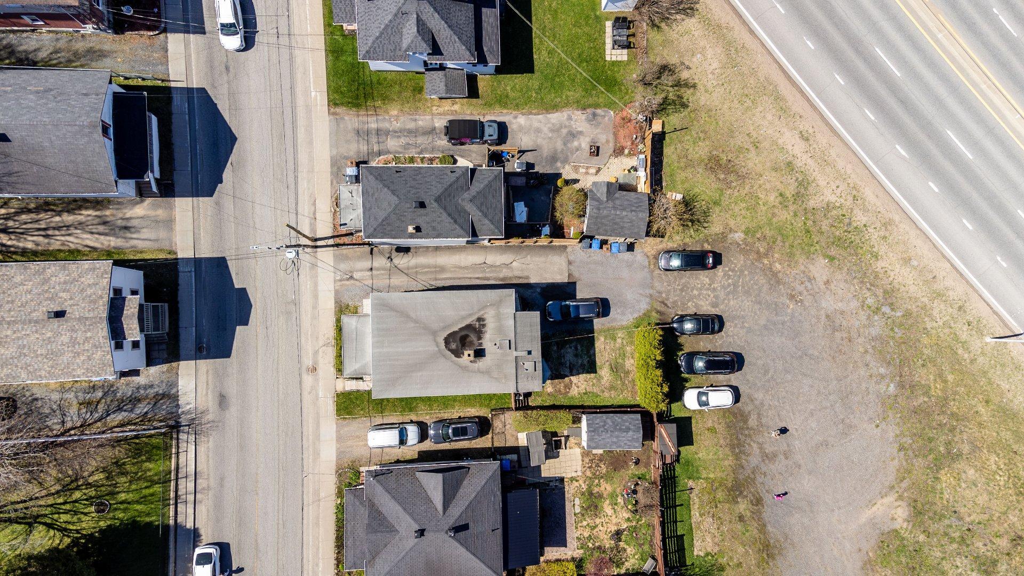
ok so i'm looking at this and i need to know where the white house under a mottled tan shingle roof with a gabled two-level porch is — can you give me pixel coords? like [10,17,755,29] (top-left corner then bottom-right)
[0,259,159,380]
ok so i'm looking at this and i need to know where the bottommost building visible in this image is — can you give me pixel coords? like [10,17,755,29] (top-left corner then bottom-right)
[345,457,541,576]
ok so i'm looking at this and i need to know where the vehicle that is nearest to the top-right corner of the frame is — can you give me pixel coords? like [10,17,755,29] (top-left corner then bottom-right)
[659,248,716,273]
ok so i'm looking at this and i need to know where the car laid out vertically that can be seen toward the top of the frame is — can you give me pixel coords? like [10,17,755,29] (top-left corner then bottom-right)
[217,0,245,53]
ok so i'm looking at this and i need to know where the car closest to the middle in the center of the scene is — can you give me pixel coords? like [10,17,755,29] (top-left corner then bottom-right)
[546,297,600,321]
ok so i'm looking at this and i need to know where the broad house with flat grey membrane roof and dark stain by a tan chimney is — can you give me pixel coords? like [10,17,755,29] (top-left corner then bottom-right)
[341,289,551,399]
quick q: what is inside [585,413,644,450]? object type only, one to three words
shed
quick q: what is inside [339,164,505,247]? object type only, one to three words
house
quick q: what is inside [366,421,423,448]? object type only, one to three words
car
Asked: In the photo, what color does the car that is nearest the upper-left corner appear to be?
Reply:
white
